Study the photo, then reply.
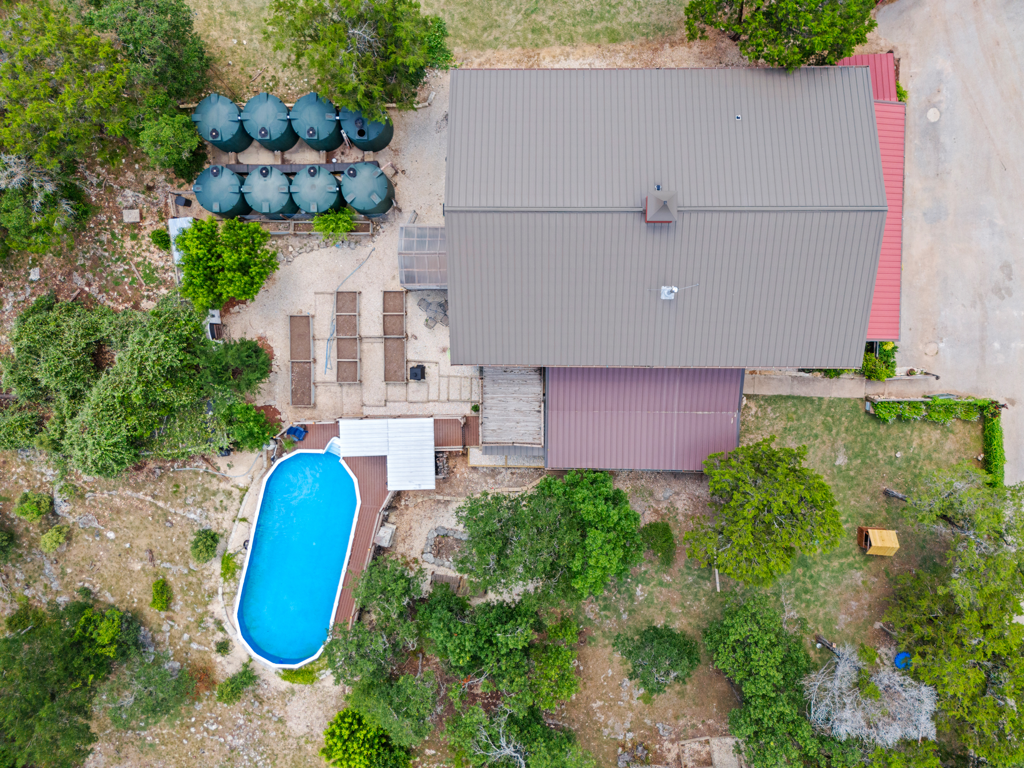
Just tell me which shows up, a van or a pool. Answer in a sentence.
The image shows a pool.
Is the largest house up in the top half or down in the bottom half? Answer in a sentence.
It is in the top half that the largest house appears.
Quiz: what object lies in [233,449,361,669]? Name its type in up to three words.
swimming pool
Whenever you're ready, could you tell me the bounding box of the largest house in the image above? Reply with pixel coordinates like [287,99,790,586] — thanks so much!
[445,52,911,473]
